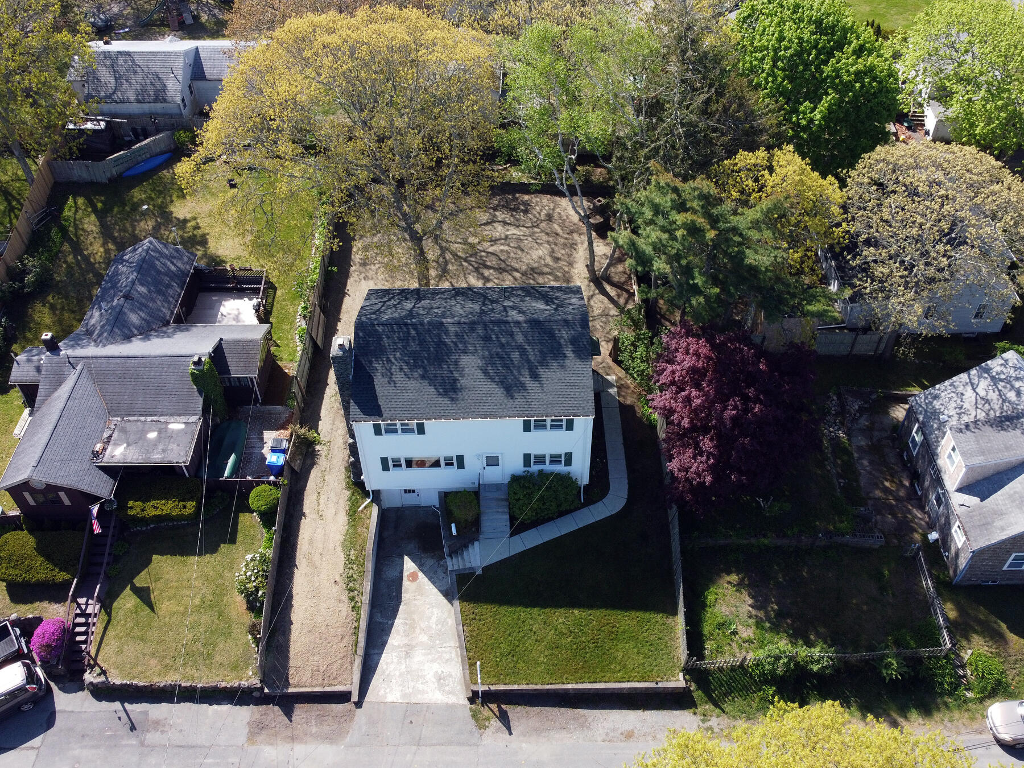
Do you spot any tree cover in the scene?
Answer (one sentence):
Yes, there is tree cover in the image.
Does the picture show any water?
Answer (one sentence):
No, no water is visible.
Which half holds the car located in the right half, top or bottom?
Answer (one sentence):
The car located in the right half sits in the bottom half of the picture.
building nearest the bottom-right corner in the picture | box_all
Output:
[906,366,1024,589]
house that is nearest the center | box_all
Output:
[327,288,597,511]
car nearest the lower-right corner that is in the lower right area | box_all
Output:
[984,704,1024,752]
